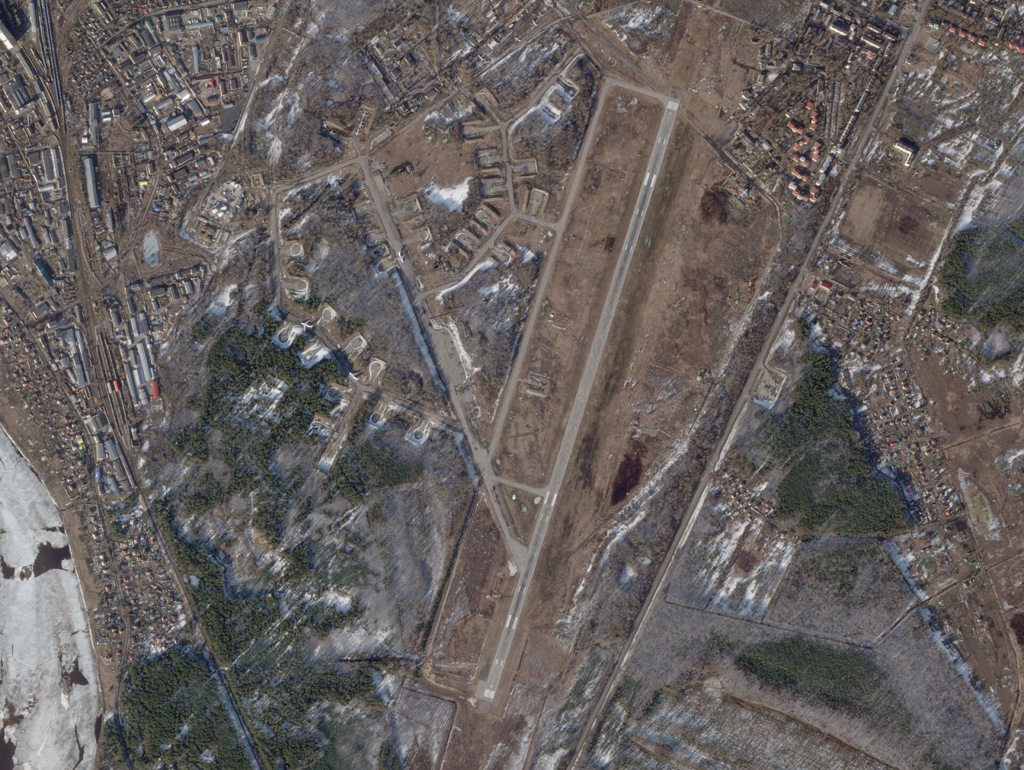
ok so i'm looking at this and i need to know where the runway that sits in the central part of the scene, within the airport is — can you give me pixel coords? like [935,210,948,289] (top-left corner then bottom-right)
[482,94,681,705]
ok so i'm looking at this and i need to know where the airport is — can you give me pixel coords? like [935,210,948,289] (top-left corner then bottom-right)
[272,45,681,713]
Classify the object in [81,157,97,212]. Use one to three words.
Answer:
building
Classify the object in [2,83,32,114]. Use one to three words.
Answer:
building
